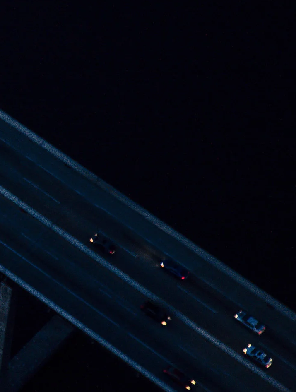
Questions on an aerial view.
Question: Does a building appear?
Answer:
No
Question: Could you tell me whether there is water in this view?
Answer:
Yes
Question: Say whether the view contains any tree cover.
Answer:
No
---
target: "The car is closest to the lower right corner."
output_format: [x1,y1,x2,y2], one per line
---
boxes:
[243,345,274,369]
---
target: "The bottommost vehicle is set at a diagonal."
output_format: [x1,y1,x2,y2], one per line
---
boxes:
[163,364,194,389]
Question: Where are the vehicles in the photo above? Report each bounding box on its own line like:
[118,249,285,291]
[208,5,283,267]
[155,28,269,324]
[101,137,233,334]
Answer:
[139,299,170,324]
[163,364,194,389]
[160,259,190,281]
[234,310,266,335]
[243,345,274,369]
